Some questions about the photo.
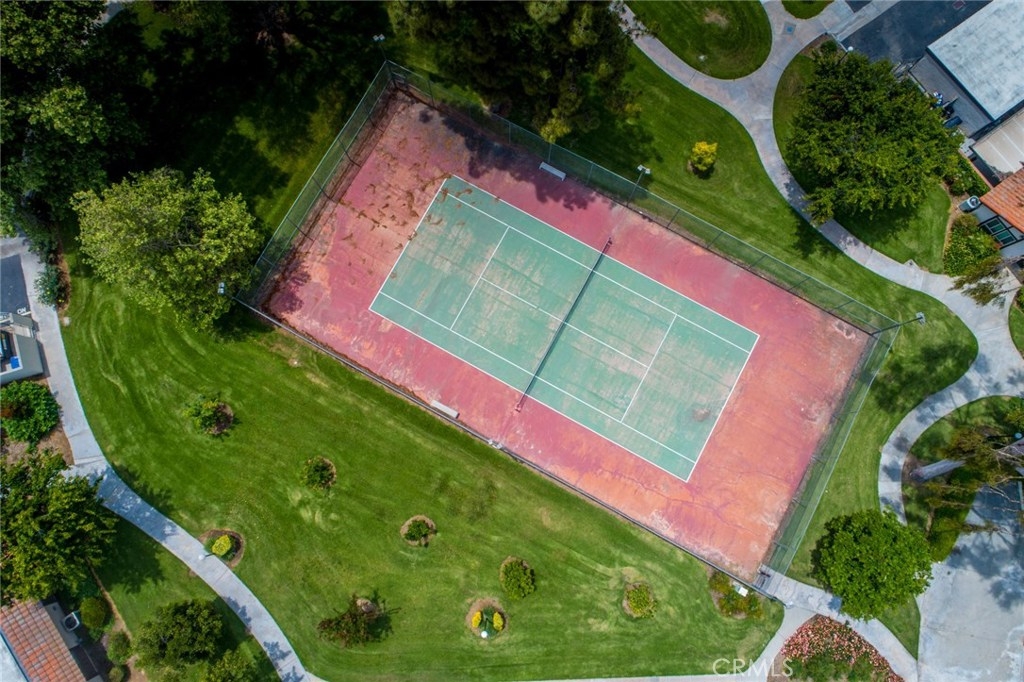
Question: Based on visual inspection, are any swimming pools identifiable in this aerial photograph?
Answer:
No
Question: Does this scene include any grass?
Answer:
Yes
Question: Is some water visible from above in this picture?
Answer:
No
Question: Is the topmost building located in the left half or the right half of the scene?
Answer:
right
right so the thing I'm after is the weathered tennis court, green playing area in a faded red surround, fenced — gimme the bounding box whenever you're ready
[257,89,874,586]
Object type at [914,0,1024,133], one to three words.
building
